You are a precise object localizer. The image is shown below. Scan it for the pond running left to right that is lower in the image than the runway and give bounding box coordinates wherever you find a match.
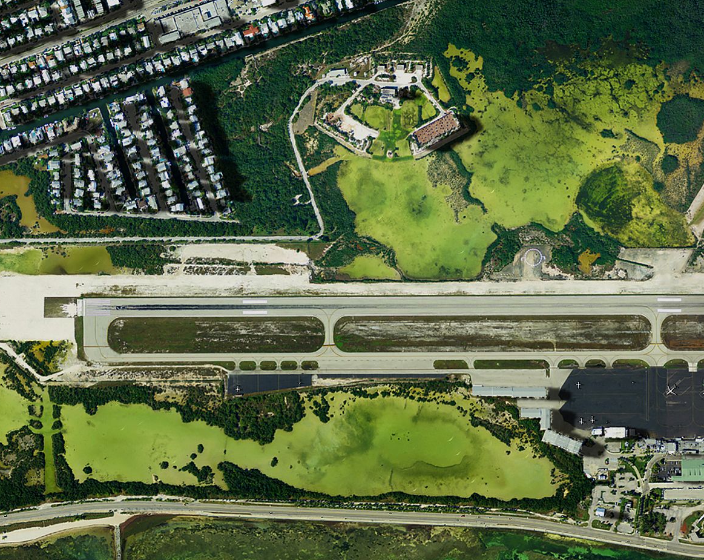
[61,386,554,501]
